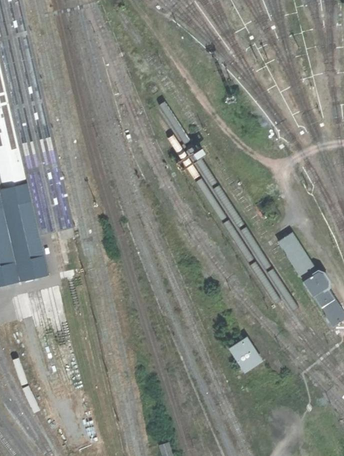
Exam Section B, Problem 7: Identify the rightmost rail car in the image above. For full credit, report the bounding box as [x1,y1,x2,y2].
[268,268,298,312]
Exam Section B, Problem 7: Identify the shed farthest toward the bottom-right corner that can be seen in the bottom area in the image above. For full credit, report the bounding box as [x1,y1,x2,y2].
[230,337,264,374]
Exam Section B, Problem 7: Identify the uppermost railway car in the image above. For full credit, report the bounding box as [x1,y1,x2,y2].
[160,100,190,144]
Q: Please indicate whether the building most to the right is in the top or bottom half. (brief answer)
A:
bottom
